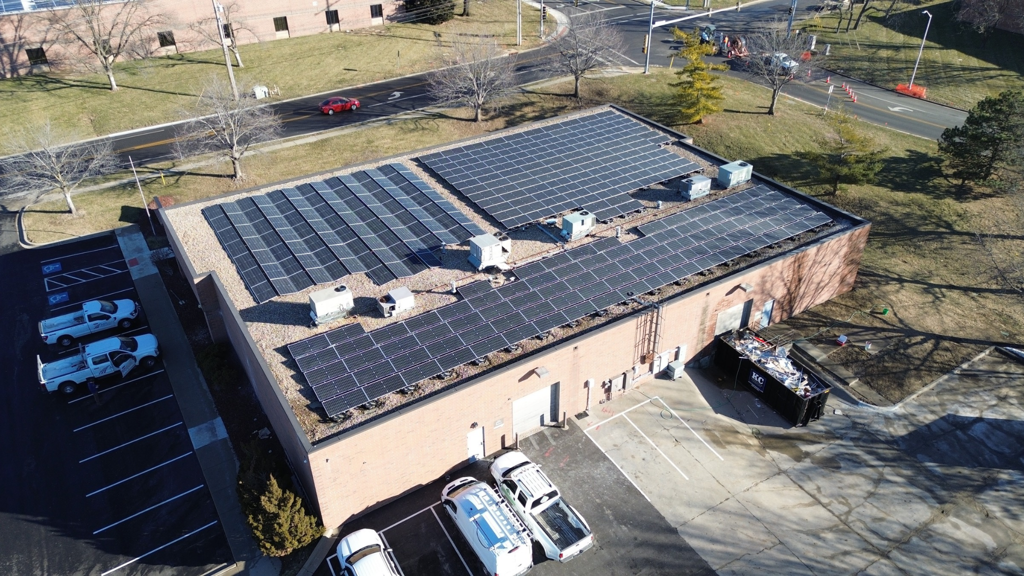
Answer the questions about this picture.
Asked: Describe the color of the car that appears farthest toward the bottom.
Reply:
white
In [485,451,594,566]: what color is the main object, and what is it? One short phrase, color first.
white truck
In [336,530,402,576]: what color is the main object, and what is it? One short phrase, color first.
white car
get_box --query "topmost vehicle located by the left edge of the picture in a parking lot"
[39,300,140,347]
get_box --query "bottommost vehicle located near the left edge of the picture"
[40,336,162,395]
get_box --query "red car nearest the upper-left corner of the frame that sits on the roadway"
[316,95,361,114]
